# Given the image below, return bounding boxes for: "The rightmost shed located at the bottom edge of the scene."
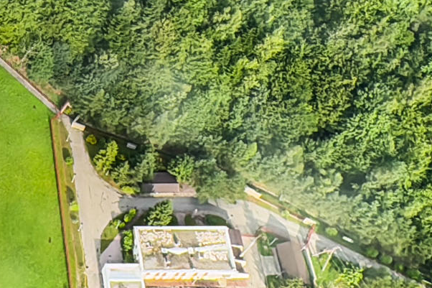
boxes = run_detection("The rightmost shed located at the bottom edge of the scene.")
[272,236,310,282]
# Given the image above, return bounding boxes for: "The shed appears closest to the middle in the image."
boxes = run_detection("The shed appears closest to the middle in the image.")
[141,173,180,198]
